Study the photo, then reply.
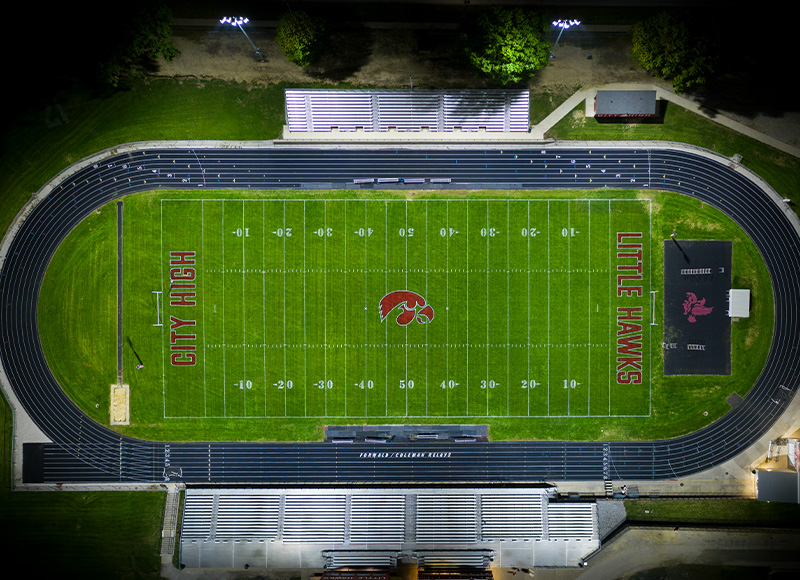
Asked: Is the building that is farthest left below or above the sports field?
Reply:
above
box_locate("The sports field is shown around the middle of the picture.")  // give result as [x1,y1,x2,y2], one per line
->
[40,188,773,442]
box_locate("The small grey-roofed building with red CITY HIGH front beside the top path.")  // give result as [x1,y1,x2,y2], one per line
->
[591,89,656,119]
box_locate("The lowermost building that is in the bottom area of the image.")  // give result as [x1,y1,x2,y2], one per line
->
[753,468,800,503]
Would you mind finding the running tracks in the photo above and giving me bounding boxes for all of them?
[0,147,800,483]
